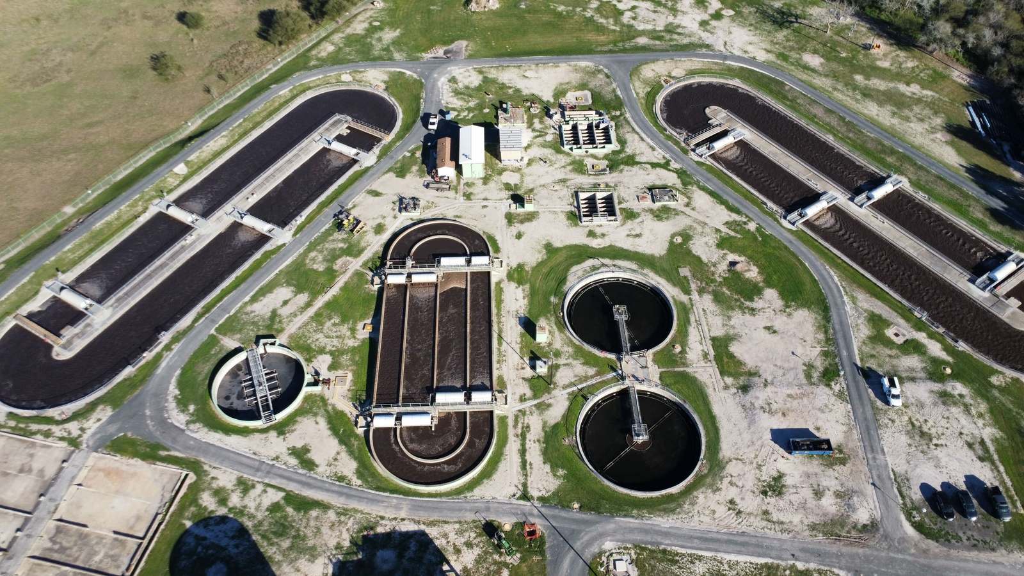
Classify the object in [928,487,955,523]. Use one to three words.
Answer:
car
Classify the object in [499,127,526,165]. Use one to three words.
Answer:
building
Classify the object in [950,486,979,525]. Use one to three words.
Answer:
car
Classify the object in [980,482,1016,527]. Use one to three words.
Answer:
truck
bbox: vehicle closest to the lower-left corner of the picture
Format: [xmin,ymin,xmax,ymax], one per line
[490,528,517,561]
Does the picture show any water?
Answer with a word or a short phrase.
Yes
